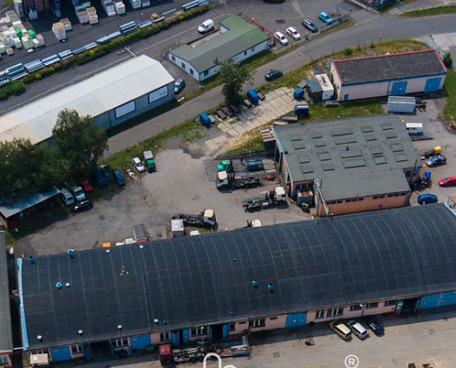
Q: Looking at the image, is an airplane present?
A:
No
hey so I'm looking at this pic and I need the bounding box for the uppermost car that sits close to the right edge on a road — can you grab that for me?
[426,155,448,168]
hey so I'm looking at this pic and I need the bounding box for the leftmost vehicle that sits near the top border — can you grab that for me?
[198,16,214,33]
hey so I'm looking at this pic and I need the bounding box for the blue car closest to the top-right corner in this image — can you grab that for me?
[317,11,333,25]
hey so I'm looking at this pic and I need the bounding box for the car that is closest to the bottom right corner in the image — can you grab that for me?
[365,318,386,336]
